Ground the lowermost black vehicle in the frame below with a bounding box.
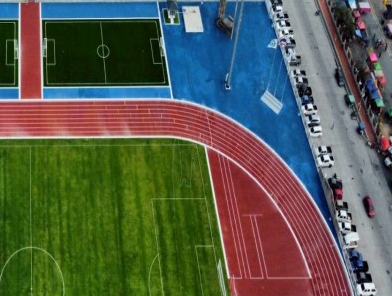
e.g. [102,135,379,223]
[352,269,374,284]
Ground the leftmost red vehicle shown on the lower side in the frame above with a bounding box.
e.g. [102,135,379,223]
[330,188,346,201]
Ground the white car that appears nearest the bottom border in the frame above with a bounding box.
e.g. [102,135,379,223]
[357,283,377,296]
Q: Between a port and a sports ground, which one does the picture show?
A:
sports ground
